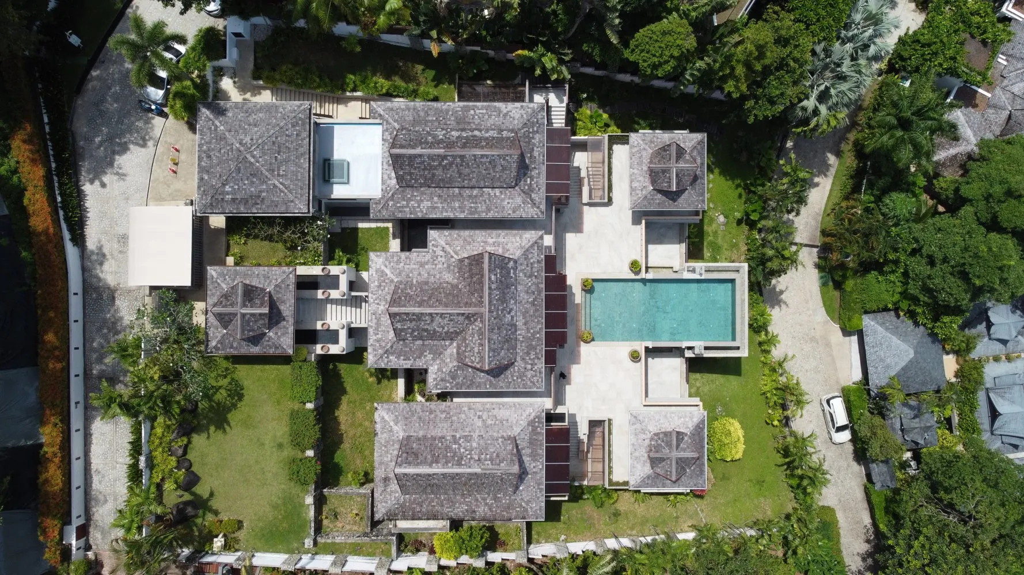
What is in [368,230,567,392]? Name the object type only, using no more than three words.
house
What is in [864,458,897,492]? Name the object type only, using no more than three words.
shed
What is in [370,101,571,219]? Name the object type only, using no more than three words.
house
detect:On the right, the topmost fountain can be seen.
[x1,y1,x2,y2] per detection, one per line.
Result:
[682,264,704,277]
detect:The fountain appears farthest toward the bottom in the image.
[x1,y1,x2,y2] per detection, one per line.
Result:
[683,343,704,356]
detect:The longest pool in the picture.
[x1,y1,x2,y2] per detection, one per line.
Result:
[576,264,748,357]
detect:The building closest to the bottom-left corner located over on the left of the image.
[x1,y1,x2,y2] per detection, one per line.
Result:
[206,265,297,355]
